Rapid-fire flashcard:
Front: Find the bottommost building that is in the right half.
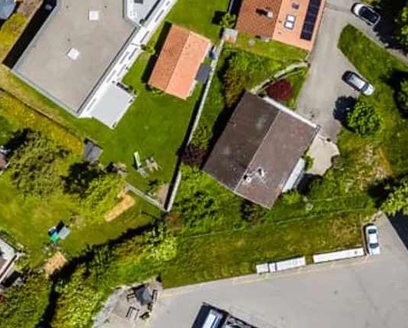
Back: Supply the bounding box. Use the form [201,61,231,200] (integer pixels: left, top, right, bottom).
[202,90,321,209]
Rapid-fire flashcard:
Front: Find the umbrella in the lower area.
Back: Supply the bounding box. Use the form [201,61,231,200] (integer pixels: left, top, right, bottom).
[136,284,155,304]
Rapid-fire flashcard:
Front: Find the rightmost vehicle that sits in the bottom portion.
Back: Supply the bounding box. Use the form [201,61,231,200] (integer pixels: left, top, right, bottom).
[364,221,381,257]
